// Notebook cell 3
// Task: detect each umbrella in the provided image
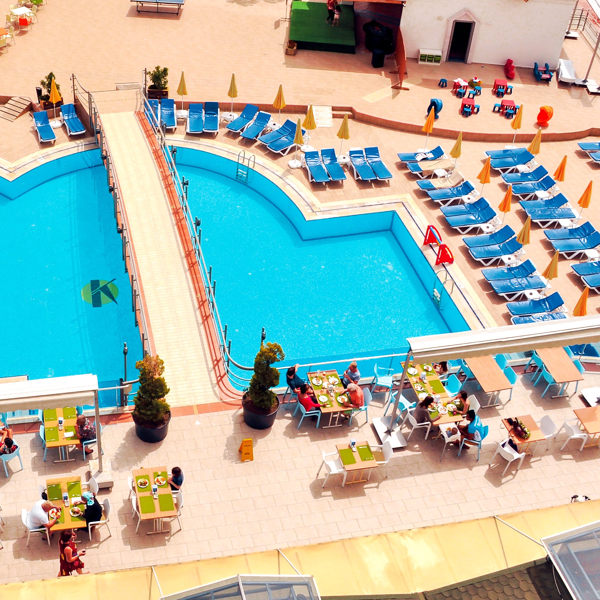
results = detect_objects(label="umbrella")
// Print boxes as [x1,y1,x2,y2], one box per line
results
[540,249,561,295]
[502,104,523,148]
[442,132,462,177]
[176,70,187,117]
[416,106,433,151]
[526,126,541,169]
[273,83,284,123]
[571,179,594,226]
[476,156,492,194]
[298,103,315,150]
[488,184,512,233]
[549,153,568,198]
[570,285,590,316]
[336,112,350,156]
[224,71,238,116]
[508,213,531,265]
[286,116,303,167]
